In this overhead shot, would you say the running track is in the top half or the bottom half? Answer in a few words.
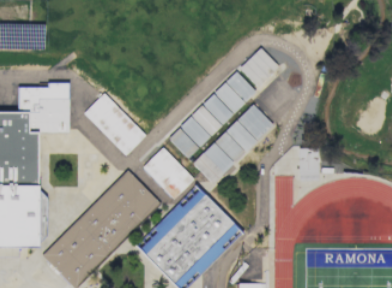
bottom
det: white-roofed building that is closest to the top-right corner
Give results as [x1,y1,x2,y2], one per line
[242,47,279,88]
